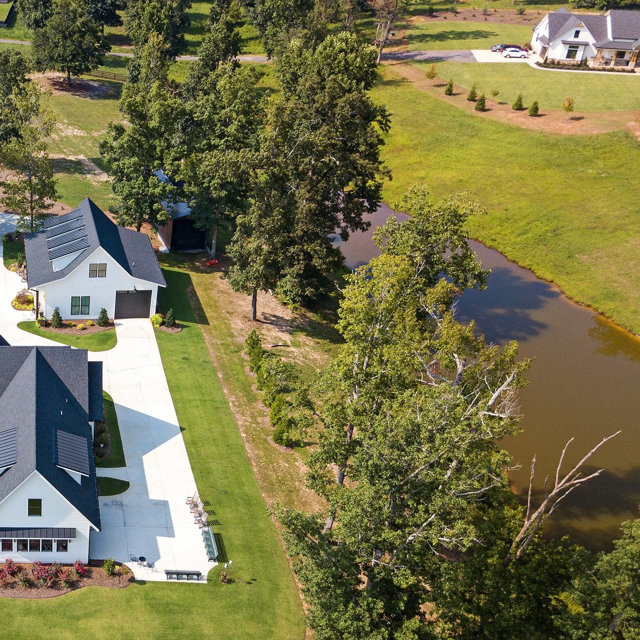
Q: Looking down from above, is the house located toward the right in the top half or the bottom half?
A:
top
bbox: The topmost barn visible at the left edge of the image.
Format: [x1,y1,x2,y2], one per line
[25,196,168,320]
